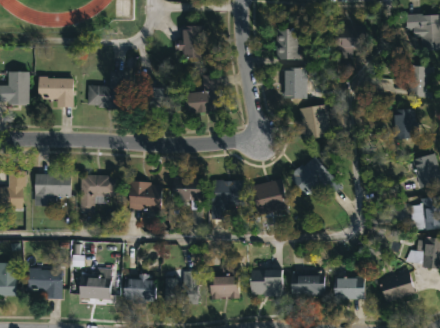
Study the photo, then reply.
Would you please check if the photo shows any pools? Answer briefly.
No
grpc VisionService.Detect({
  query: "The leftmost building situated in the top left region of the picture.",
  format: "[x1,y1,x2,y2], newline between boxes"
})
[0,71,31,105]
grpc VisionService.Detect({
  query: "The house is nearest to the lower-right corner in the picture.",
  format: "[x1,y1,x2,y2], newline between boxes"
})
[380,271,418,303]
